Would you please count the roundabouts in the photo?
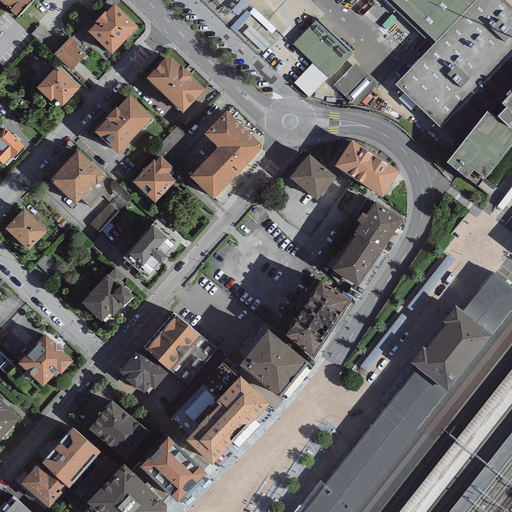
1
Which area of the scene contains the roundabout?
top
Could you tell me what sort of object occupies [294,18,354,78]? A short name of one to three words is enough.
building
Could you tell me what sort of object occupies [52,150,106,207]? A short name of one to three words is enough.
house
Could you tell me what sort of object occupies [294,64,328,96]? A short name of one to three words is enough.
shed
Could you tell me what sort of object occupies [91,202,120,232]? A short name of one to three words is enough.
building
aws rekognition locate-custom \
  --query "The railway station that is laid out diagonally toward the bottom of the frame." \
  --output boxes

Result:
[305,274,512,512]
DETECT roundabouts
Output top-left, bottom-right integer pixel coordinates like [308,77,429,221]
[265,96,316,146]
